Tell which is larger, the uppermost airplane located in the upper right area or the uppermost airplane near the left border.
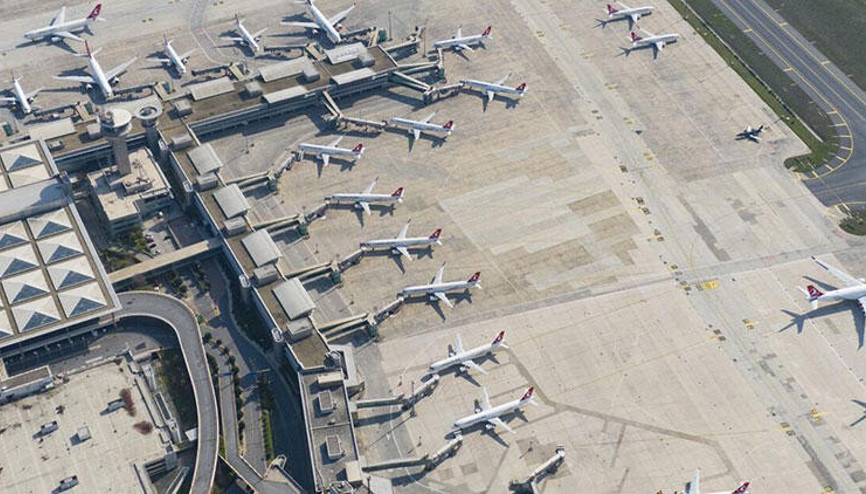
the uppermost airplane near the left border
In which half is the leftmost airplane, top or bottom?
top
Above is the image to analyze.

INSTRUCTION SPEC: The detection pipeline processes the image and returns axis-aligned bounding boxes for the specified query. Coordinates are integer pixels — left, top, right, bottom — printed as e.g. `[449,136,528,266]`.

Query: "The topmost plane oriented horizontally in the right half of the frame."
[606,1,654,25]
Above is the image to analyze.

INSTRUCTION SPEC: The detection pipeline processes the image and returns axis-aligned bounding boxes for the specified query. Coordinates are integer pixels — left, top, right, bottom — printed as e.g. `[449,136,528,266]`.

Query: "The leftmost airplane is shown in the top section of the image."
[0,73,48,113]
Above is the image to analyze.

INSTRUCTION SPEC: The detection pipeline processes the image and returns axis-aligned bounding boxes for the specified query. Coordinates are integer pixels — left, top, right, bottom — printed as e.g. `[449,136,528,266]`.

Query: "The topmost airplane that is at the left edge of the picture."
[25,6,104,43]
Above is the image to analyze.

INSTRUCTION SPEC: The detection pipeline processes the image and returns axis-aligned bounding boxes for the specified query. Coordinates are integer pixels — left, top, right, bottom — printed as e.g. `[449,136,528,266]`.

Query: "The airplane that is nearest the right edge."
[796,255,866,319]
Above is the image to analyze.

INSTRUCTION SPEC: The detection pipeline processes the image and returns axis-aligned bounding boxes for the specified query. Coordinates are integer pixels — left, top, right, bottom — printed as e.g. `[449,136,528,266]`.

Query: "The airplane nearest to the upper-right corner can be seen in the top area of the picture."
[735,123,764,140]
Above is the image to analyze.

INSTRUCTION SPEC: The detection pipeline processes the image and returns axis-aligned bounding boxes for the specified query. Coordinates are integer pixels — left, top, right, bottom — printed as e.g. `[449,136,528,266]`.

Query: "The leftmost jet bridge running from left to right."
[30,102,88,122]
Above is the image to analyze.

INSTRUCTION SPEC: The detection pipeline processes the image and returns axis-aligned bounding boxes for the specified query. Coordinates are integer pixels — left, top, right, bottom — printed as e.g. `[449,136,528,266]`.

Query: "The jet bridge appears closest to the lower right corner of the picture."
[521,449,567,494]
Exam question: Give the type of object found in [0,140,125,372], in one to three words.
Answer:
building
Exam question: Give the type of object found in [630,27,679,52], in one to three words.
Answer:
airplane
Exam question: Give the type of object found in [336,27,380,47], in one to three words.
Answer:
jet bridge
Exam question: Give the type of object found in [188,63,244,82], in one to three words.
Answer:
jet bridge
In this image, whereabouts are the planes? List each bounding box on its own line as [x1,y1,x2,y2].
[796,255,866,319]
[332,176,404,216]
[0,73,48,113]
[390,109,456,141]
[735,123,764,140]
[52,42,139,99]
[220,14,270,52]
[465,72,528,102]
[452,388,538,435]
[25,6,104,43]
[147,35,199,74]
[279,0,358,44]
[299,133,364,167]
[606,1,654,25]
[430,332,509,376]
[402,262,481,309]
[433,25,493,53]
[630,27,679,52]
[362,217,441,263]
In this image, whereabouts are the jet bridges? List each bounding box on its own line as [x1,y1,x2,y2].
[285,246,368,289]
[521,449,567,494]
[316,294,408,348]
[322,92,391,134]
[188,63,244,82]
[355,372,445,414]
[260,44,321,61]
[224,151,301,198]
[251,200,334,241]
[336,27,380,47]
[30,102,88,122]
[387,72,468,108]
[360,432,467,476]
[109,82,167,102]
[382,25,427,58]
[397,46,448,80]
